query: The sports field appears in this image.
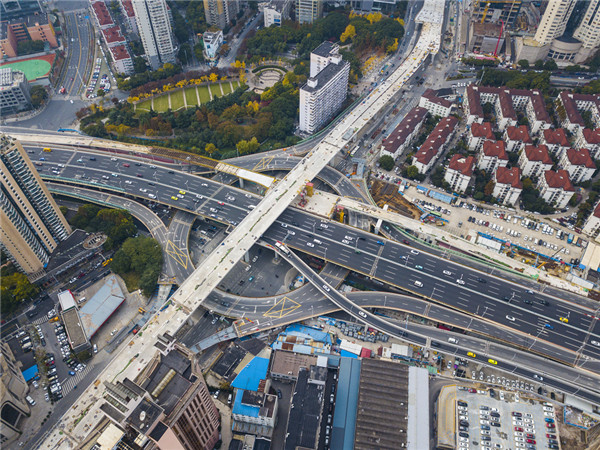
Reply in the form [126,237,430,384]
[12,53,55,79]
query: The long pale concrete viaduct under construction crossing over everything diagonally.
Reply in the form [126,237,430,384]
[33,0,448,450]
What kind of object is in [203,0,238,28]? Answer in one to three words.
building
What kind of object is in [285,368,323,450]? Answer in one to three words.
shed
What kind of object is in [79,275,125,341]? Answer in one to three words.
building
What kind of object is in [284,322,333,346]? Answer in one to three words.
shed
